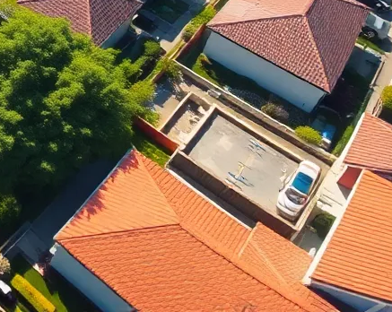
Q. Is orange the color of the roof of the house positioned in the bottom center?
Yes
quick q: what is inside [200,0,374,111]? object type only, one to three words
house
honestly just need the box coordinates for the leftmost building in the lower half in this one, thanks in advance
[47,146,326,312]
